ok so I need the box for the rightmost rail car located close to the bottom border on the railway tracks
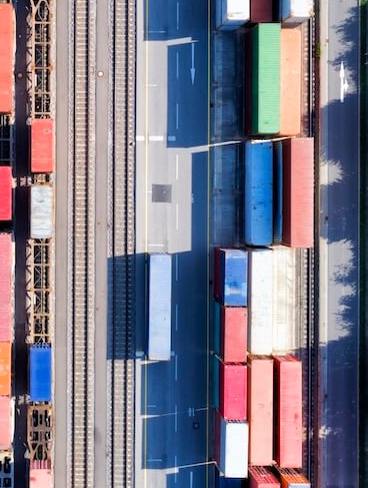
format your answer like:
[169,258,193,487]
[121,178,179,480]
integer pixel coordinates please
[27,405,52,468]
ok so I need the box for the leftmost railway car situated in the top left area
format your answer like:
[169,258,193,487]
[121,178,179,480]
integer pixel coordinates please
[0,1,15,225]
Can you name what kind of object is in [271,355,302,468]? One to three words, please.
shipping container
